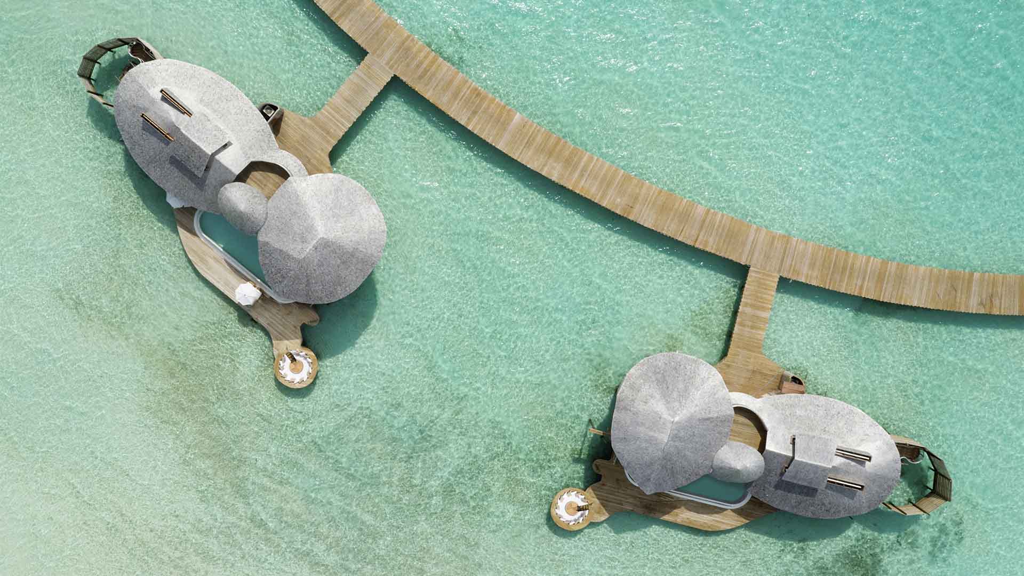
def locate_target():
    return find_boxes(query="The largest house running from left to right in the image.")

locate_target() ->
[610,351,901,519]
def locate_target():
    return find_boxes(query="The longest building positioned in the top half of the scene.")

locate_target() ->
[113,58,386,304]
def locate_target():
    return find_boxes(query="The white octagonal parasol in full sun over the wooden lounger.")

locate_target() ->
[236,282,261,307]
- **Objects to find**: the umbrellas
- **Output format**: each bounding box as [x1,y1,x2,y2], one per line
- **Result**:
[167,193,186,207]
[236,282,261,307]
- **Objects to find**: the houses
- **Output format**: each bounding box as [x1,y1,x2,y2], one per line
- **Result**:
[113,58,386,304]
[610,351,901,519]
